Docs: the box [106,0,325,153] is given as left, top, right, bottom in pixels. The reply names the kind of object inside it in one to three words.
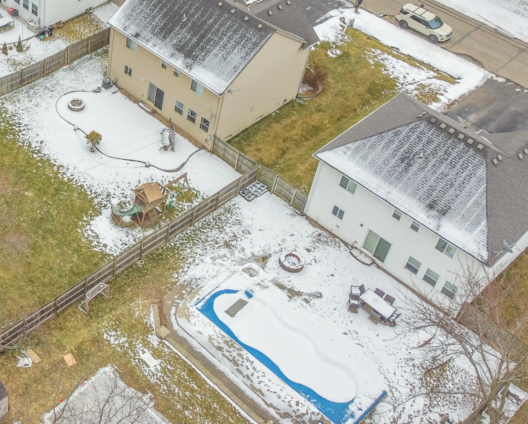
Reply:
house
